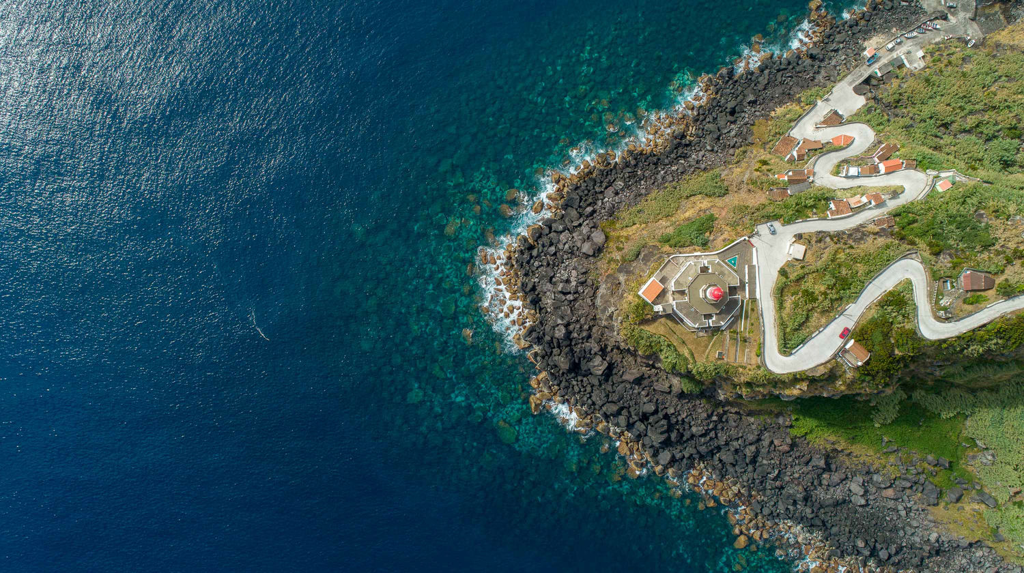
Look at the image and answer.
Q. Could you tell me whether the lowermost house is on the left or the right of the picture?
right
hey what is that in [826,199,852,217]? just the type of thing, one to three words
house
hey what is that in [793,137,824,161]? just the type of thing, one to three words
house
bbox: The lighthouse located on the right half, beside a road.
[670,259,741,327]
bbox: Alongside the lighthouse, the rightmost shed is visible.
[745,265,757,298]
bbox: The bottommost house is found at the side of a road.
[837,341,871,367]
